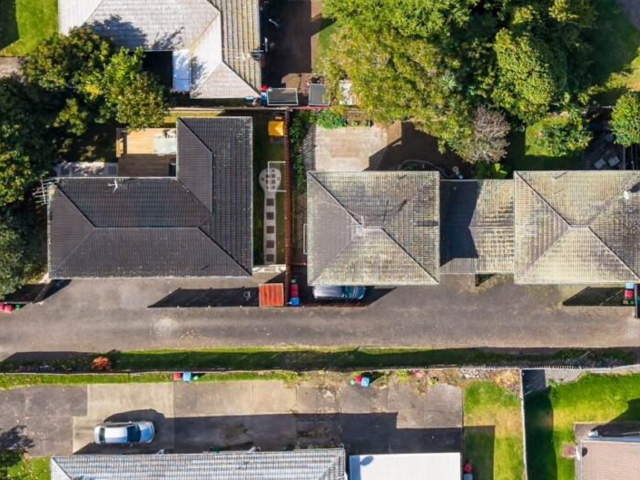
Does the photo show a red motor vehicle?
No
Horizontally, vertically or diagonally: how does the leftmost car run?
horizontally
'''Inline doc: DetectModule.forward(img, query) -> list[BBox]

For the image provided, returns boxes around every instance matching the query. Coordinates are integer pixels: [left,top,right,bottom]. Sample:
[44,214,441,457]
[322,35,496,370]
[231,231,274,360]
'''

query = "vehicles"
[311,288,368,304]
[89,421,154,450]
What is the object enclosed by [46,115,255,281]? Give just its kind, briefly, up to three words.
house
